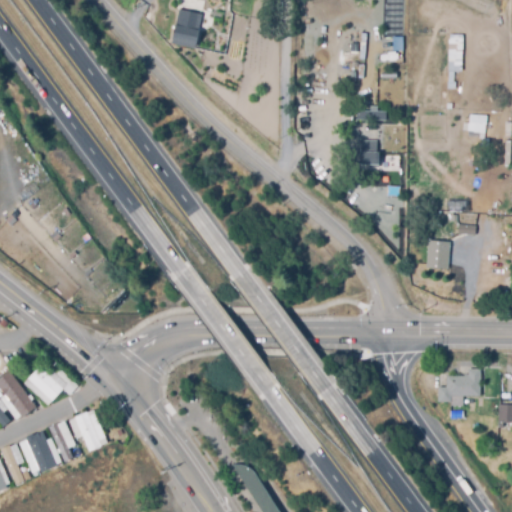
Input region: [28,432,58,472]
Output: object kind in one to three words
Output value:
house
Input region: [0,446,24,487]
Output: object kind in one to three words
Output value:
house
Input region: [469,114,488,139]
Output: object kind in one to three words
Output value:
barn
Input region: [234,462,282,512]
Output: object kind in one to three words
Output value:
building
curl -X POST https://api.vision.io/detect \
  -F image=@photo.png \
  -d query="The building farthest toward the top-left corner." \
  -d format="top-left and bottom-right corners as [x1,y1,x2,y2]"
[173,8,204,48]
